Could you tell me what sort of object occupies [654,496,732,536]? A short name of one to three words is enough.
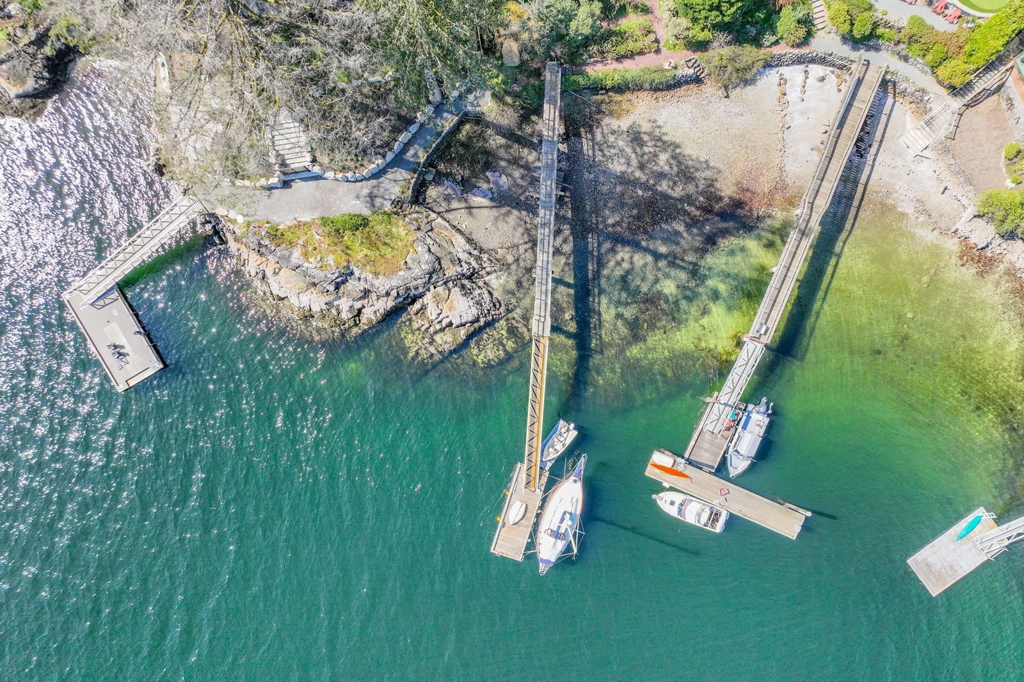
boat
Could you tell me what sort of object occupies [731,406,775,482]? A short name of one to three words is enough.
boat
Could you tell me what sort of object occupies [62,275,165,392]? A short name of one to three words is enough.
pier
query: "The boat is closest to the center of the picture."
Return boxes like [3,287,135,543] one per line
[541,419,577,469]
